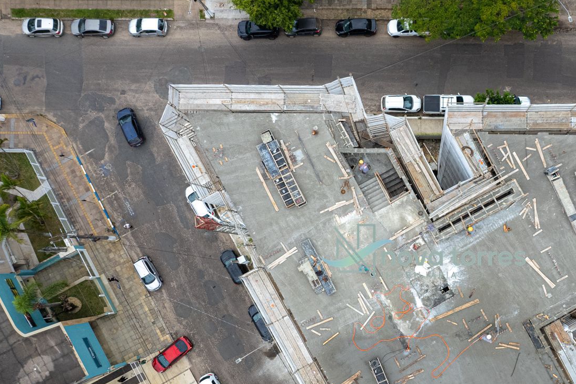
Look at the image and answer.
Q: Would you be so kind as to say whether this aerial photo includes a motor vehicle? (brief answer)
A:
Yes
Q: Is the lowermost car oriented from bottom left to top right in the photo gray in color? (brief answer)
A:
No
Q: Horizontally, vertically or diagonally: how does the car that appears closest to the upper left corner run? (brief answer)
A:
horizontally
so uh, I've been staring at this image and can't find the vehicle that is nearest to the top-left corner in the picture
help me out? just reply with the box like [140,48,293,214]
[25,16,66,38]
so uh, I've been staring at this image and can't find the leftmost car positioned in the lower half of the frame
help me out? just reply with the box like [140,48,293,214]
[133,254,165,291]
